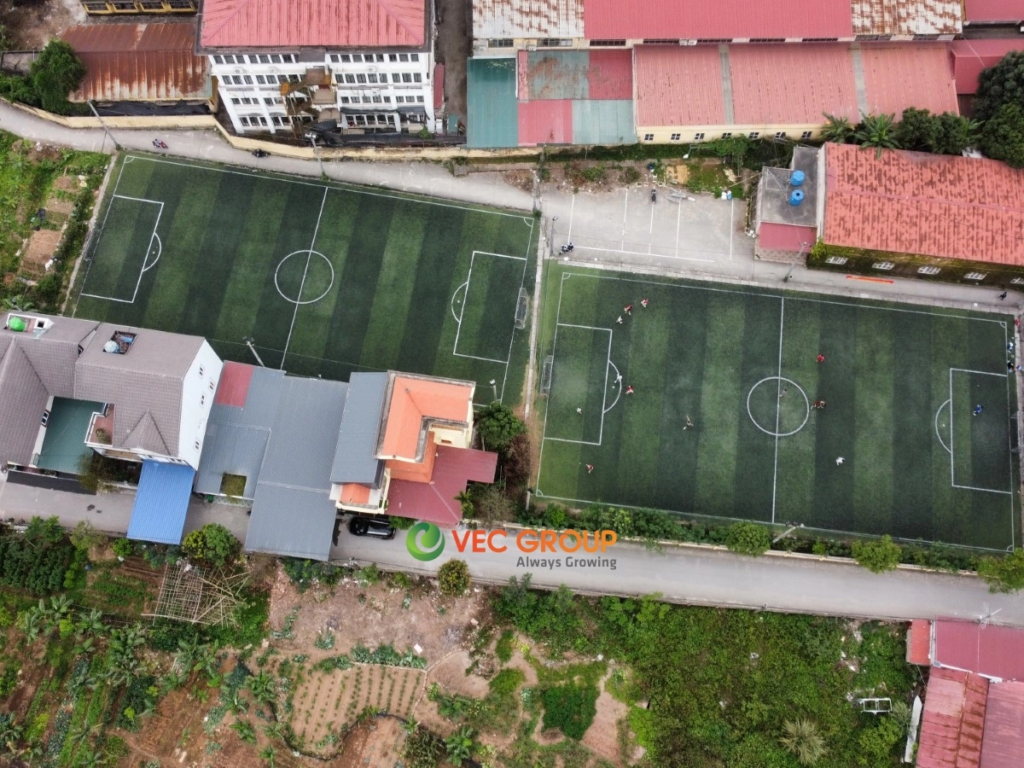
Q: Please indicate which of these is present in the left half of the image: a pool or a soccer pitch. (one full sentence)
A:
What appears in the left half of the image is a soccer pitch.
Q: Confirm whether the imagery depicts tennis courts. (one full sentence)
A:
No, there is no tennis court in the image.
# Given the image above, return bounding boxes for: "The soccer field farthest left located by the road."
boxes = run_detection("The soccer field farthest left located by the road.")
[70,153,540,417]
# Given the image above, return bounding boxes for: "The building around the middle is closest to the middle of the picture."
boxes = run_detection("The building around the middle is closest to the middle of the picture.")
[330,370,497,527]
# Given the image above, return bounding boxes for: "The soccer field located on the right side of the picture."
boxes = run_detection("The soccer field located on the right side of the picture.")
[527,263,1021,555]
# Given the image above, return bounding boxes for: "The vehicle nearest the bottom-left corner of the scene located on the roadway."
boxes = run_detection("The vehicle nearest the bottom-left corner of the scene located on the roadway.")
[348,515,397,540]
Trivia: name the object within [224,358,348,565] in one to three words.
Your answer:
building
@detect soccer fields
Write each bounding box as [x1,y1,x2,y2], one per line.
[527,263,1021,555]
[70,153,540,417]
